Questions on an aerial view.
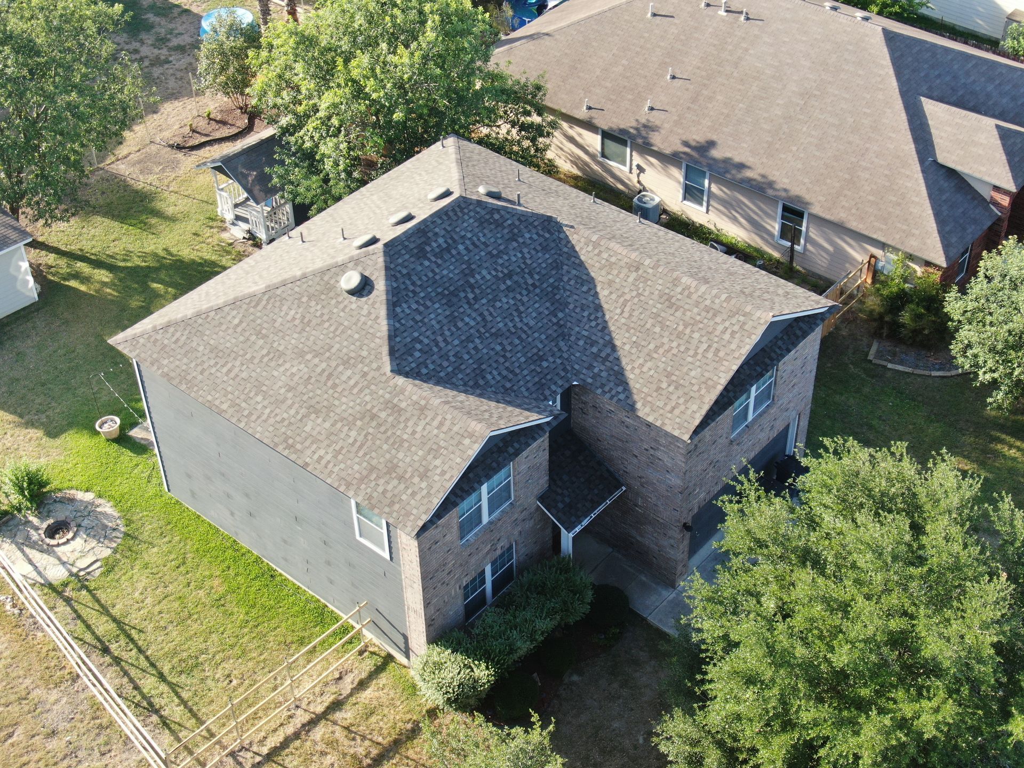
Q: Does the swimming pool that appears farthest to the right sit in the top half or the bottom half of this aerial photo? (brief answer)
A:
top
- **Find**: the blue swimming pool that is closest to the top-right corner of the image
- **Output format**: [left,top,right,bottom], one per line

[496,0,567,34]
